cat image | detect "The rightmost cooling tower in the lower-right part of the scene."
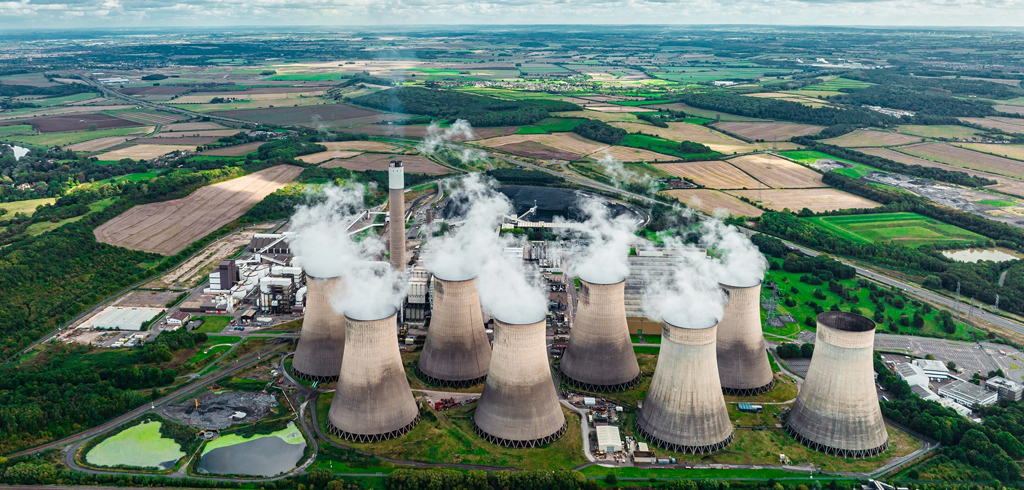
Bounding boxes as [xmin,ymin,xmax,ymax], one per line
[783,310,892,460]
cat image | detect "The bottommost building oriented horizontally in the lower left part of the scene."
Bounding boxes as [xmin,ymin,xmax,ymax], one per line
[183,427,227,443]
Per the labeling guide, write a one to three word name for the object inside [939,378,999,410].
building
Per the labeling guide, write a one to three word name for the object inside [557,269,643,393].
cooling tower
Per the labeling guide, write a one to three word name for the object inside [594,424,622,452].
building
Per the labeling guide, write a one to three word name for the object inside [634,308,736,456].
cooling tower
